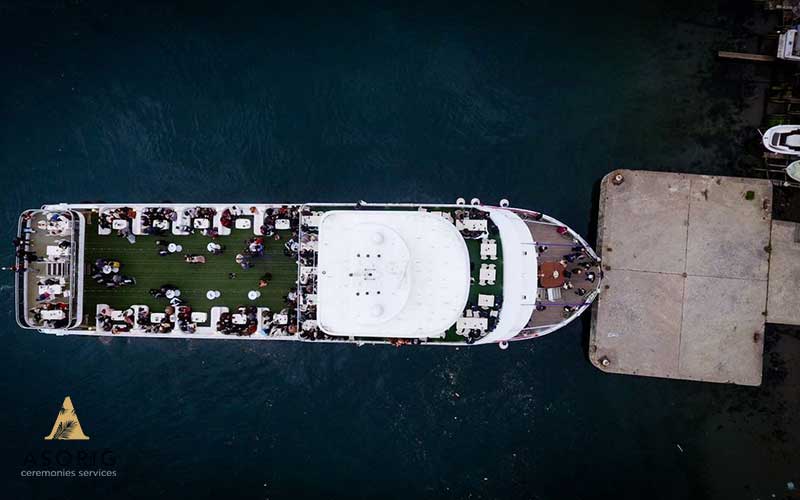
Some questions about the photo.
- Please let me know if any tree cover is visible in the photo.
No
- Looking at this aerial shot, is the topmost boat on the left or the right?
right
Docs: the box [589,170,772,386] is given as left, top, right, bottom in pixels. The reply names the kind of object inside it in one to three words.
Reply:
pier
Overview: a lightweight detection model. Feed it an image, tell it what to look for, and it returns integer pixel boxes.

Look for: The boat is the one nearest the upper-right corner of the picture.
[773,30,800,62]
